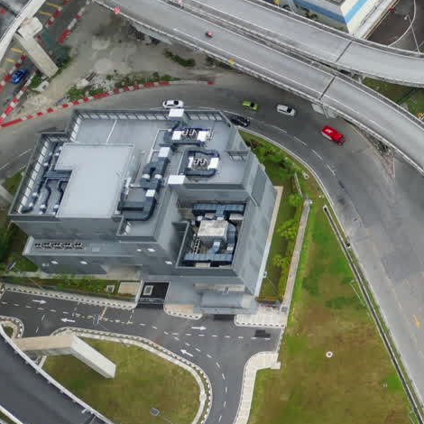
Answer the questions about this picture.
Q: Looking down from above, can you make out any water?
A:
No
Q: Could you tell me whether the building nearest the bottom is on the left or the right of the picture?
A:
left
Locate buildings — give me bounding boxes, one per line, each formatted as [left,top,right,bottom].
[276,0,399,39]
[5,106,281,319]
